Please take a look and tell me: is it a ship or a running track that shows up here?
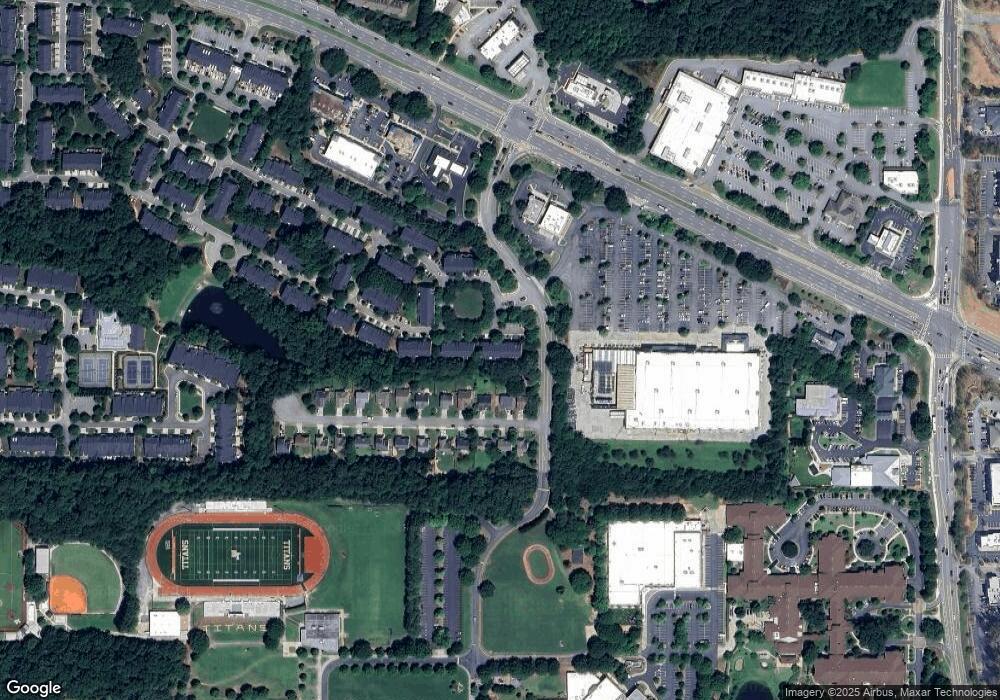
running track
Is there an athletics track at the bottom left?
Yes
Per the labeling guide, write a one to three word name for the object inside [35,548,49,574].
shed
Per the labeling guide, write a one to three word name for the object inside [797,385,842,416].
building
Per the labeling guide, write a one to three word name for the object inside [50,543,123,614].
baseball field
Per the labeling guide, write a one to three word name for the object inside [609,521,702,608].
building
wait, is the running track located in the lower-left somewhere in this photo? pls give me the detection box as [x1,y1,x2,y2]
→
[146,512,331,597]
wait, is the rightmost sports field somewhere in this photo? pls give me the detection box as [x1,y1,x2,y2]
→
[156,522,315,586]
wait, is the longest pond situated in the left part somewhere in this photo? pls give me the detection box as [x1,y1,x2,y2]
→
[181,287,285,358]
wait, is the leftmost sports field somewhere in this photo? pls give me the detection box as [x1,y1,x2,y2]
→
[0,520,24,625]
